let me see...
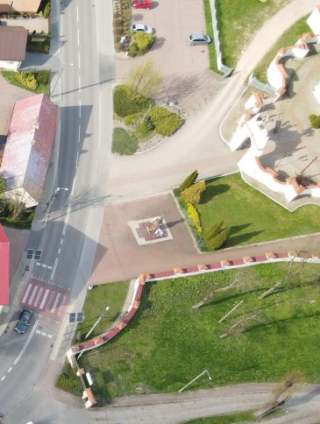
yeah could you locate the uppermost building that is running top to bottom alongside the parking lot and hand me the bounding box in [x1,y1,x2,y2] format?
[0,93,58,208]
